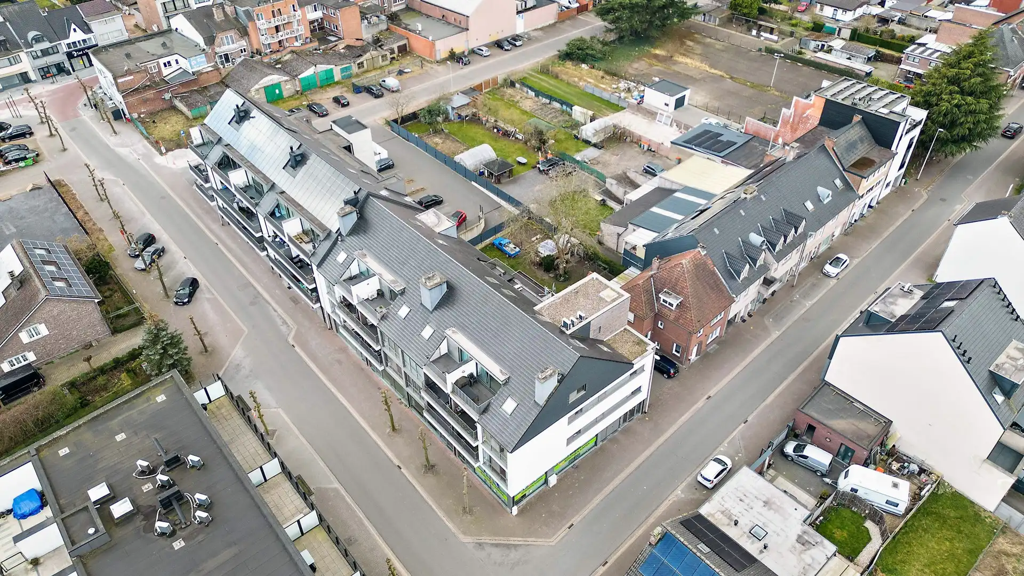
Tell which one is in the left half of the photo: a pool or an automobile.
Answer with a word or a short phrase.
automobile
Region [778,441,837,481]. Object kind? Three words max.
van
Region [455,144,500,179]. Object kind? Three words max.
greenhouse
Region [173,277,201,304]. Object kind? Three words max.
car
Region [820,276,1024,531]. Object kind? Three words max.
house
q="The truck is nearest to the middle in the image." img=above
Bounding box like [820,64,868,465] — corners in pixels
[490,237,524,258]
